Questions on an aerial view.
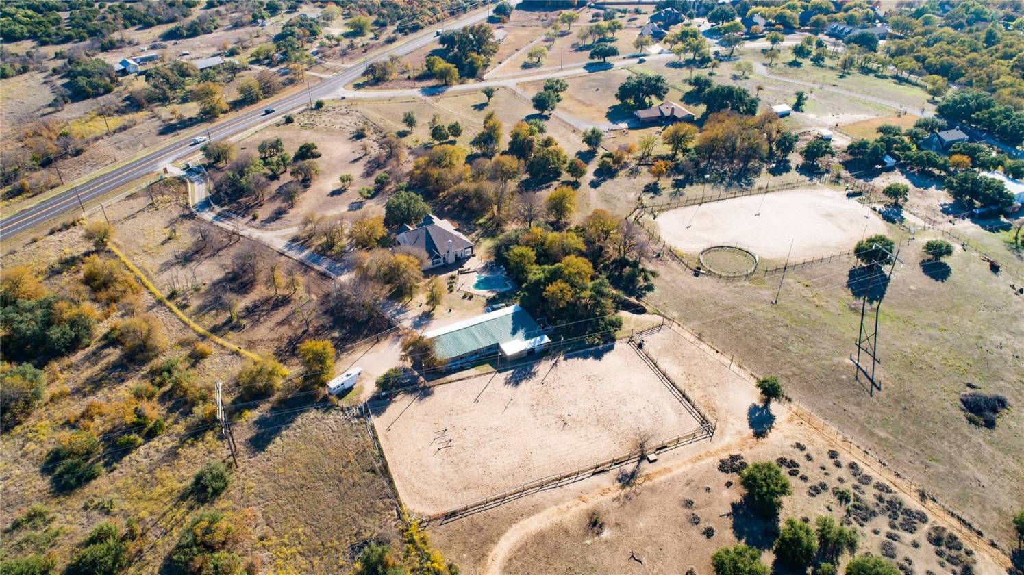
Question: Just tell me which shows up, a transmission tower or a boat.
transmission tower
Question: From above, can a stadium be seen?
Yes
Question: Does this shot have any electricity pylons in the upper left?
No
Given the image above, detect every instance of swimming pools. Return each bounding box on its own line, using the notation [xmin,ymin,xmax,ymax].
[472,274,511,290]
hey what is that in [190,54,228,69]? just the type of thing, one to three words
shed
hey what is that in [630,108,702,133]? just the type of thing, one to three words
house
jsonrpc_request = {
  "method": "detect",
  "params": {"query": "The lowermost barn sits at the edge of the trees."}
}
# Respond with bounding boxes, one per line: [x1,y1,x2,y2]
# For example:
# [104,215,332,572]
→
[426,306,551,369]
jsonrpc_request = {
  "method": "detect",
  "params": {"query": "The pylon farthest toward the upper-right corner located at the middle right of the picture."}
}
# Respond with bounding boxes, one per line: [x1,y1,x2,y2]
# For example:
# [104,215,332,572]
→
[865,241,903,307]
